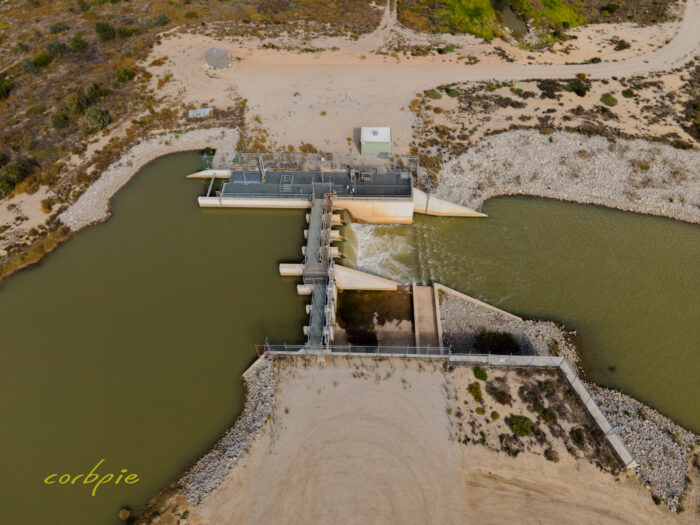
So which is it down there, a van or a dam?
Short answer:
dam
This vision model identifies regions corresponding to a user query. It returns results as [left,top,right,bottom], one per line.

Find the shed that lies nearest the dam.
[360,127,393,155]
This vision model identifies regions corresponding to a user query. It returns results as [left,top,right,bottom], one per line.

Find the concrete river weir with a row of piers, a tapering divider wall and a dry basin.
[280,214,444,354]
